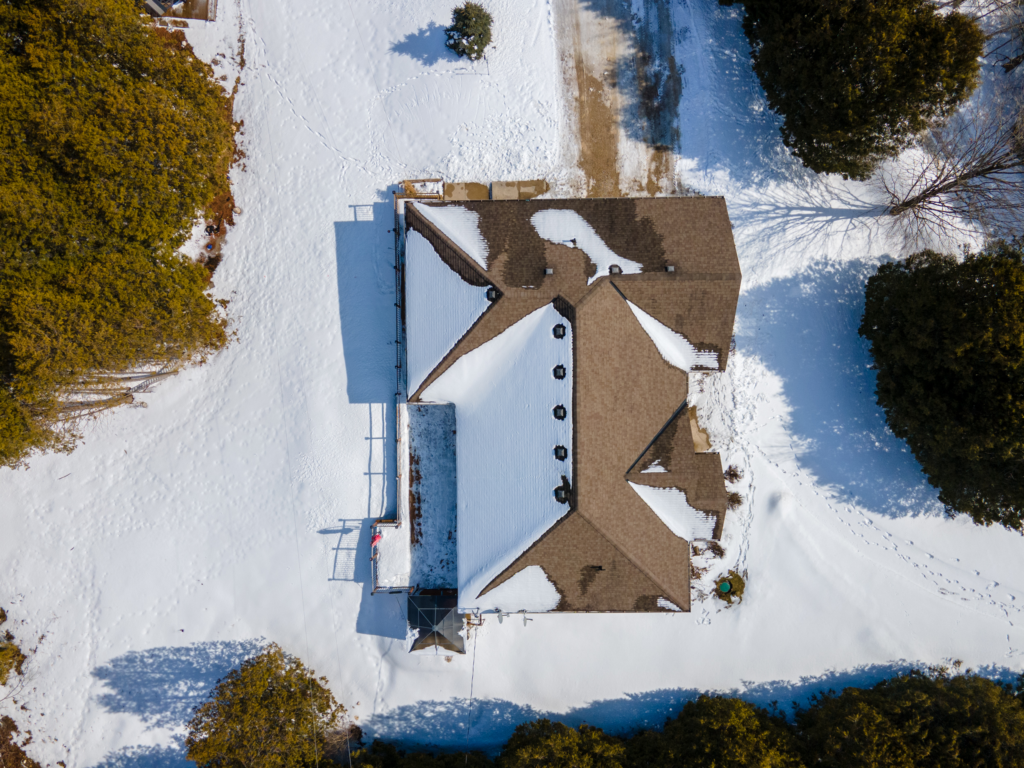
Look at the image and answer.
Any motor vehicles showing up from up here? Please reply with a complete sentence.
No, there is no motor vehicle in the image.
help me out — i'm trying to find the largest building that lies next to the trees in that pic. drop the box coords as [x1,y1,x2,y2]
[403,197,741,615]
